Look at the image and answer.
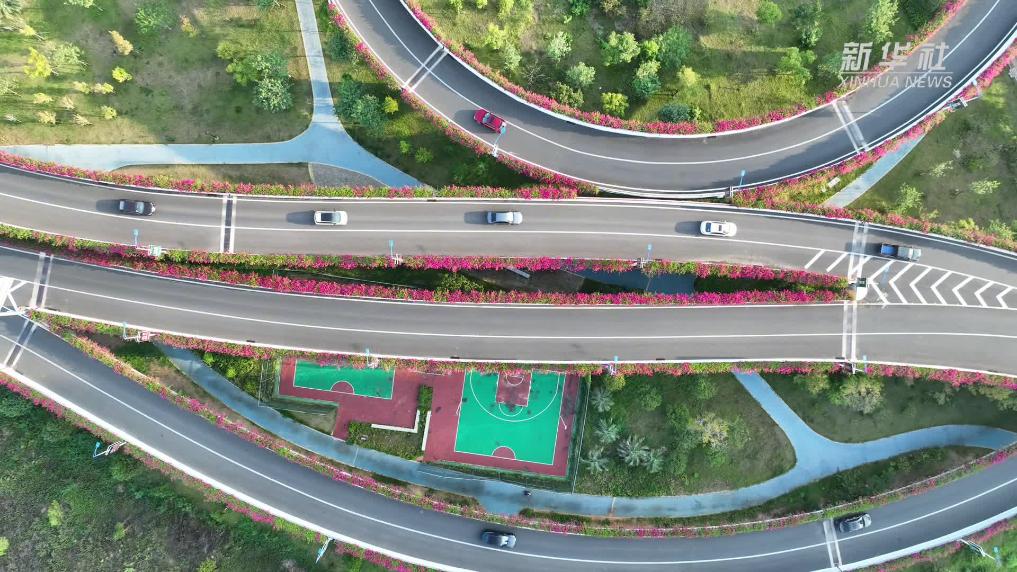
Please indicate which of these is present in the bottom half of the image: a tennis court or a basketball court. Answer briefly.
basketball court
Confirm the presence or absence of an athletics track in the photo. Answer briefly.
No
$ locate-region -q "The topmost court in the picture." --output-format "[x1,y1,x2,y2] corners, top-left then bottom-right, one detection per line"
[293,360,396,399]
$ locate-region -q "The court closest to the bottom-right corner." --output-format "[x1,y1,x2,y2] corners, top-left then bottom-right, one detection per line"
[454,371,566,465]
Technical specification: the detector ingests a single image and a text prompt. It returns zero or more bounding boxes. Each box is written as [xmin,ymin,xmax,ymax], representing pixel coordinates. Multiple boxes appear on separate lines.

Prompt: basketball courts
[293,360,396,399]
[454,371,566,465]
